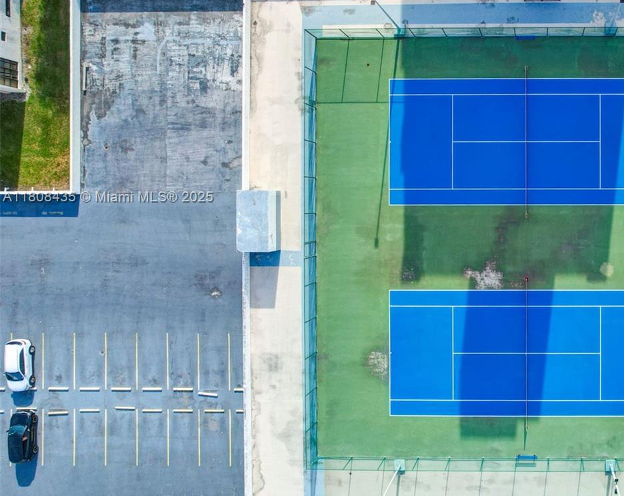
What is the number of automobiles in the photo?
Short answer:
2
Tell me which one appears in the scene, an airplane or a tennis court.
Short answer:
tennis court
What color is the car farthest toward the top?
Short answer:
white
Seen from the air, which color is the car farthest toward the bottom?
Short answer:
black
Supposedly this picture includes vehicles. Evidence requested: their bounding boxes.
[6,411,38,463]
[3,340,34,391]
